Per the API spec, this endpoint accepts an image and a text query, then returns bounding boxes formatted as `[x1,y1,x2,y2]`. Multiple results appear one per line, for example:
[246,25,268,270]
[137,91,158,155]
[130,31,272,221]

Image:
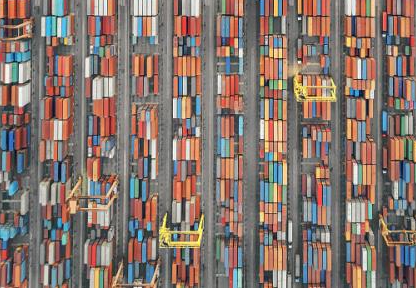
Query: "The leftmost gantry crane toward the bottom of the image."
[68,177,121,212]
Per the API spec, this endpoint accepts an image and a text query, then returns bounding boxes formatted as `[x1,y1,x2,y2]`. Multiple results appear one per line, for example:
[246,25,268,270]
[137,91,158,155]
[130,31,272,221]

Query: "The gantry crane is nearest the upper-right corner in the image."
[293,74,339,101]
